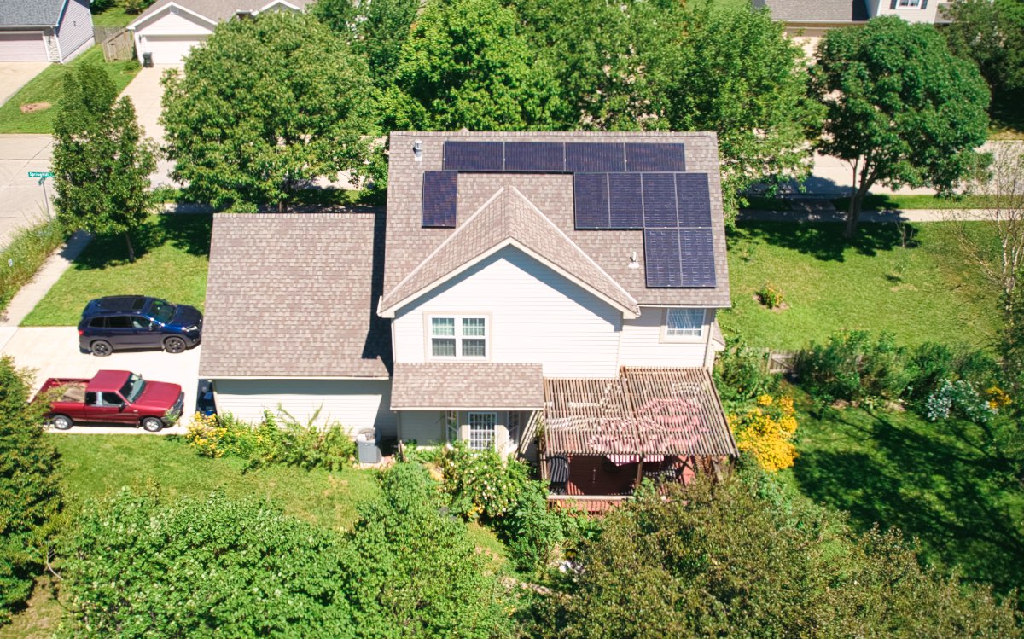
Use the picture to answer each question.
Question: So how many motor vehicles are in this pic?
2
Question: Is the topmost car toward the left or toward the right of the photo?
left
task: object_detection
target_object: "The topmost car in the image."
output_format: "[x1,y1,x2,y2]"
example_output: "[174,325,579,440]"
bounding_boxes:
[78,294,205,354]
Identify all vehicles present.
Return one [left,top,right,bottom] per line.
[78,294,205,354]
[27,366,190,428]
